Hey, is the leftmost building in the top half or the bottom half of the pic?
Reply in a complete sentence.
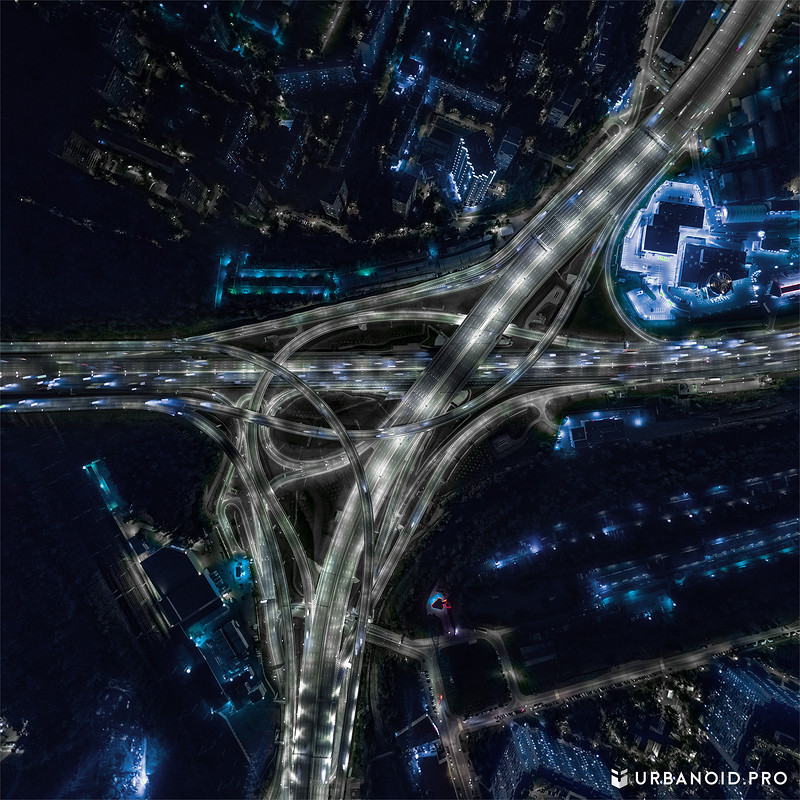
The leftmost building is in the top half of the image.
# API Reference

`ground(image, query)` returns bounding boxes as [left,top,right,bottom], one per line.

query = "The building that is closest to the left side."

[38,120,100,176]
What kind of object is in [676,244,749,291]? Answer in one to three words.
building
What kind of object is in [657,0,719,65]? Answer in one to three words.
building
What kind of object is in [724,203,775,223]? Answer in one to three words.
hangar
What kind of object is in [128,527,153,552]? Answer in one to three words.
shed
